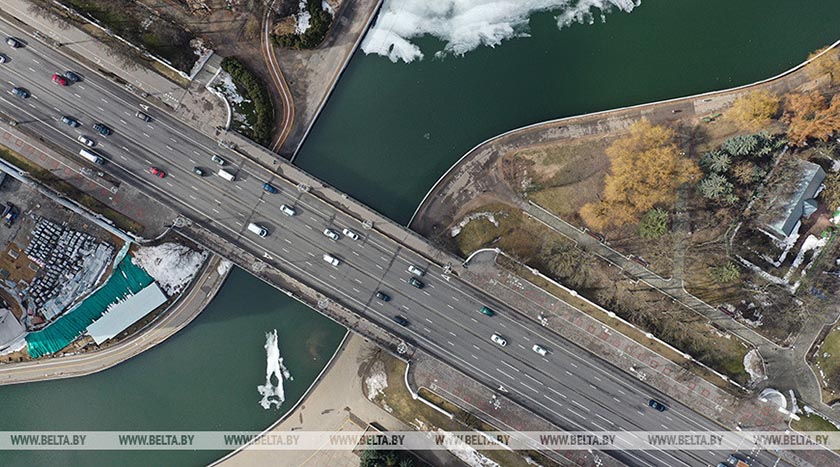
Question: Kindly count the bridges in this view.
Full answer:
Altogether the scene contains 1 bridge.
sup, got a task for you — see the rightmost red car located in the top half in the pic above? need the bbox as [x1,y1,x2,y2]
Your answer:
[150,166,167,178]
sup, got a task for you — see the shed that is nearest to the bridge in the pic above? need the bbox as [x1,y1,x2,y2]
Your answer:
[86,282,170,346]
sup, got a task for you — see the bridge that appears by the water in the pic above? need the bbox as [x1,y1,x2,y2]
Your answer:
[171,126,467,364]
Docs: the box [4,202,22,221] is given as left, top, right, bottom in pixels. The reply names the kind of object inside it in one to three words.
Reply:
work vehicle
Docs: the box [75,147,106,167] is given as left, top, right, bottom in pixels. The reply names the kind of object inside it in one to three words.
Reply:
vehicle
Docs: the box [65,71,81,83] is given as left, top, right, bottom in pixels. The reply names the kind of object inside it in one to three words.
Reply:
vehicle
